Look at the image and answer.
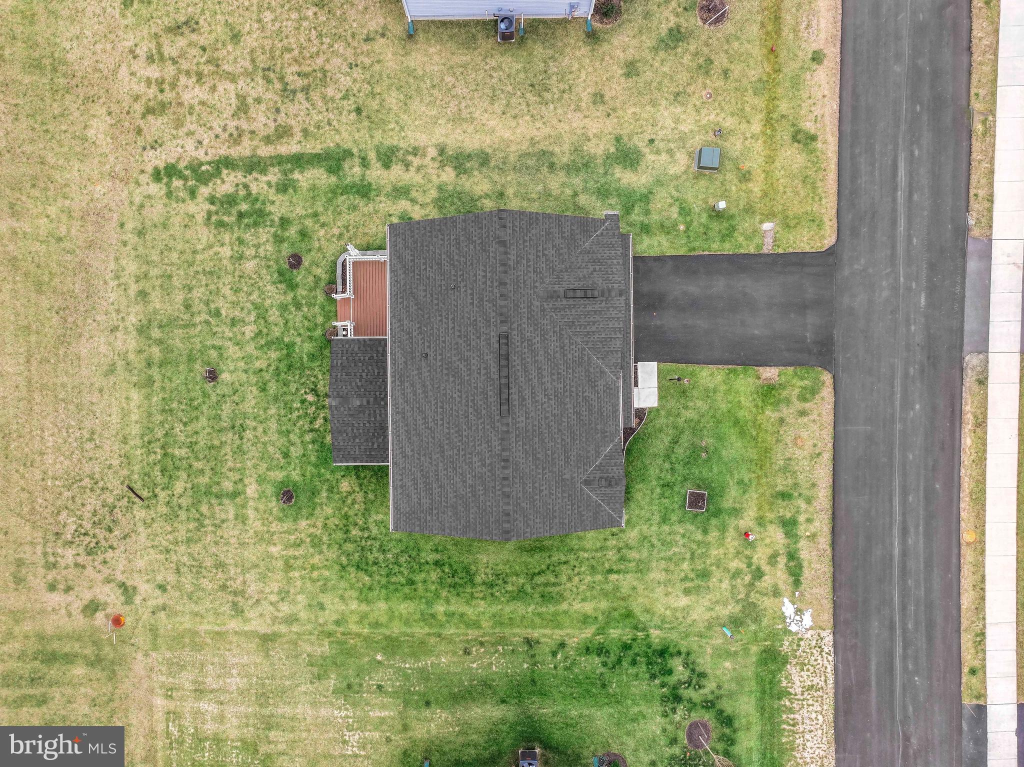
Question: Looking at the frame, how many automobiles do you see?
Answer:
zero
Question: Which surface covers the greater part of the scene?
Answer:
grass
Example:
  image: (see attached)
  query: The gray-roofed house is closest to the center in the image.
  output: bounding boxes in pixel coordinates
[329,207,634,543]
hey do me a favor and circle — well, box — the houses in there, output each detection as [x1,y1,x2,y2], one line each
[329,207,634,543]
[401,0,596,27]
